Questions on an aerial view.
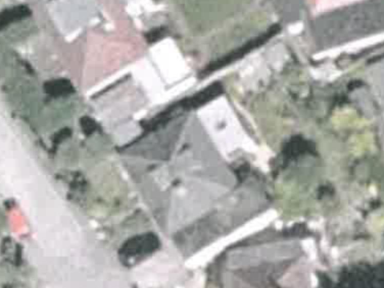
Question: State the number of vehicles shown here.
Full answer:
I count 2 vehicles.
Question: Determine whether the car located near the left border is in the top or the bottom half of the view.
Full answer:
Seen from above, the car located near the left border lies in the bottom half of the view.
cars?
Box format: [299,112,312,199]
[115,234,166,267]
[3,199,34,246]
